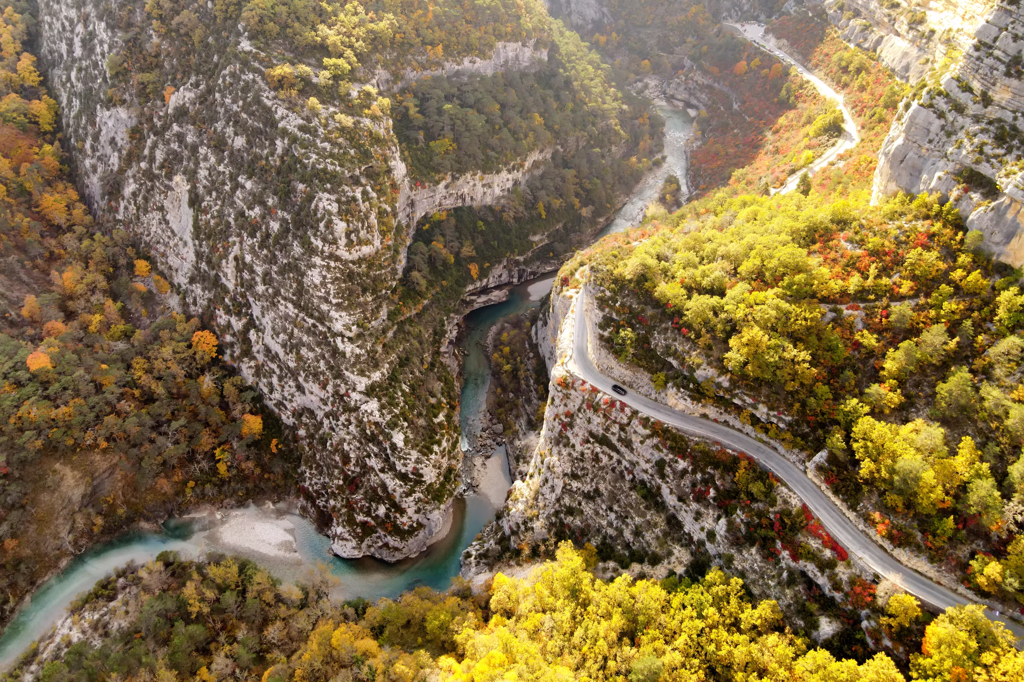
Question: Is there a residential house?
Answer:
No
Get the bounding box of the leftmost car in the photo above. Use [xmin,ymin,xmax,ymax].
[611,384,628,396]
